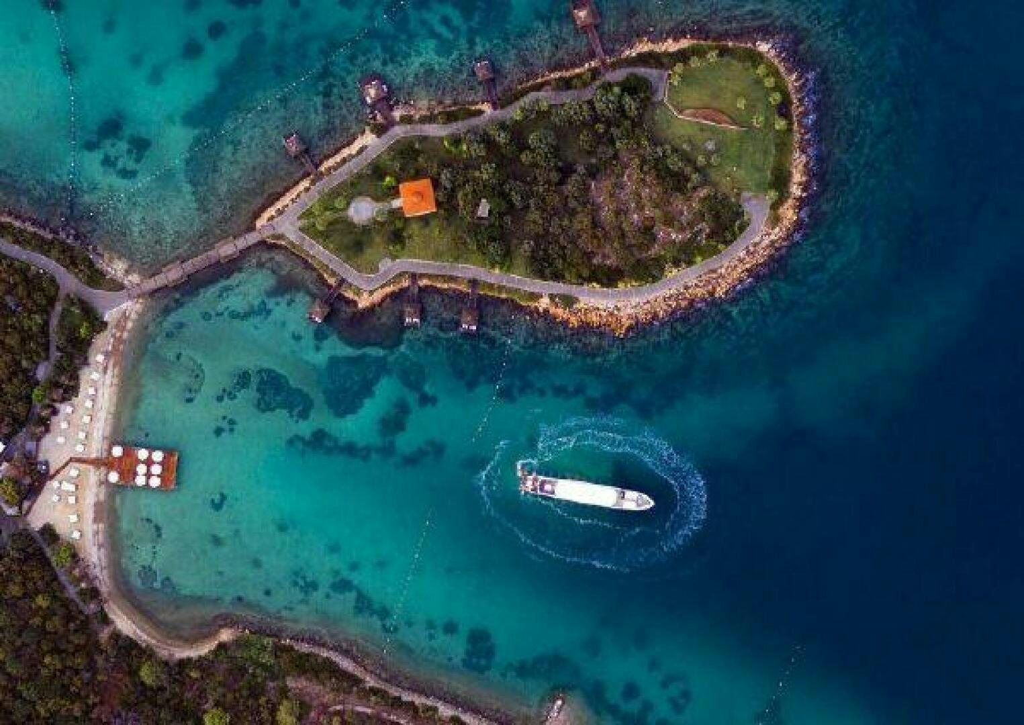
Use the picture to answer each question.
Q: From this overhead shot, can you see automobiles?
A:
No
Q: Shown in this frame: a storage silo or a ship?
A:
ship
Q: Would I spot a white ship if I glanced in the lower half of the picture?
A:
Yes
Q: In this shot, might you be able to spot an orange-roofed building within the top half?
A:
Yes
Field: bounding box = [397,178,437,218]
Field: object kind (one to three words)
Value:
building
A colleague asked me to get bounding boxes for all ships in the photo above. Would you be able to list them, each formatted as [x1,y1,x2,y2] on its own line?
[517,453,655,511]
